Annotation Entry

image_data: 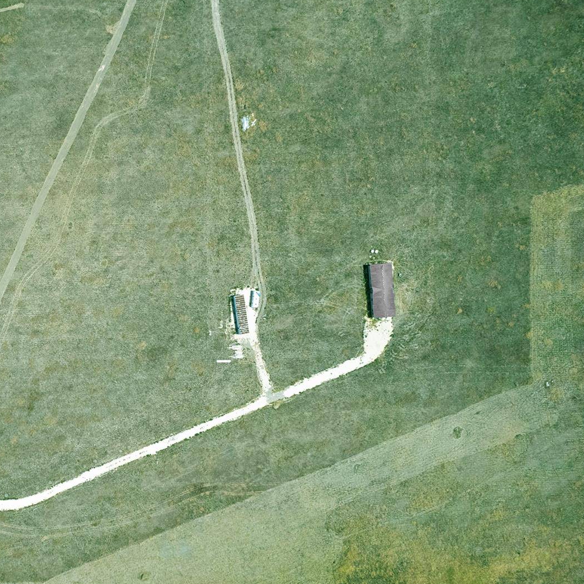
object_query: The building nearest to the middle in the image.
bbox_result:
[231,294,249,334]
